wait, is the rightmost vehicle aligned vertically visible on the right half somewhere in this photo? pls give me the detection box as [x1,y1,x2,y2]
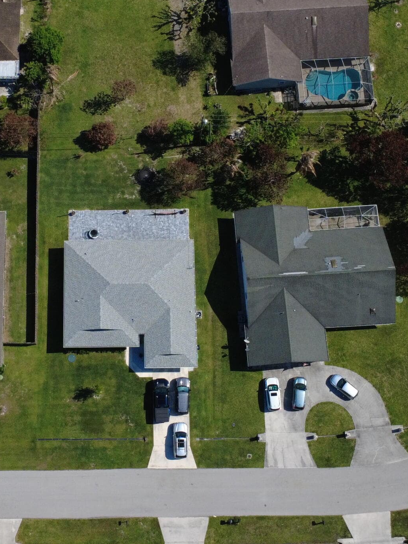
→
[292,375,309,411]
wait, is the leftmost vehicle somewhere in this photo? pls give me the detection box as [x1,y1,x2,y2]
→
[153,379,172,425]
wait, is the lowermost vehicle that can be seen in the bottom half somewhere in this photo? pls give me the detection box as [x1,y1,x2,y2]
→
[172,422,189,459]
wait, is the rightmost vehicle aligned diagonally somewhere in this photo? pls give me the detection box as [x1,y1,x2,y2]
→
[326,373,362,402]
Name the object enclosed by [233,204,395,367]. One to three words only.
building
